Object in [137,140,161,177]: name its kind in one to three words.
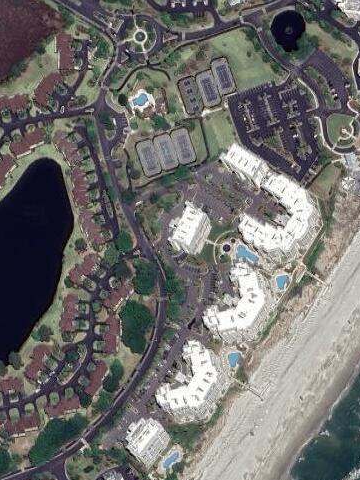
tennis court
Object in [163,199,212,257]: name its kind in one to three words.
building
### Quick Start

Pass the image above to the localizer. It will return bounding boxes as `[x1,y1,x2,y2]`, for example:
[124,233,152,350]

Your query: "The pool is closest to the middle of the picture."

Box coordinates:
[218,237,261,266]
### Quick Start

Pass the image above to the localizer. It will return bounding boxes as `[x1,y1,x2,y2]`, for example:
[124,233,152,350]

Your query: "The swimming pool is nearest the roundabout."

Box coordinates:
[128,89,155,112]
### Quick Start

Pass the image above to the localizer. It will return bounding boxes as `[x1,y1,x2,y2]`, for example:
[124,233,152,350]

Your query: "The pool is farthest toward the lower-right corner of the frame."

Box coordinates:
[220,348,243,375]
